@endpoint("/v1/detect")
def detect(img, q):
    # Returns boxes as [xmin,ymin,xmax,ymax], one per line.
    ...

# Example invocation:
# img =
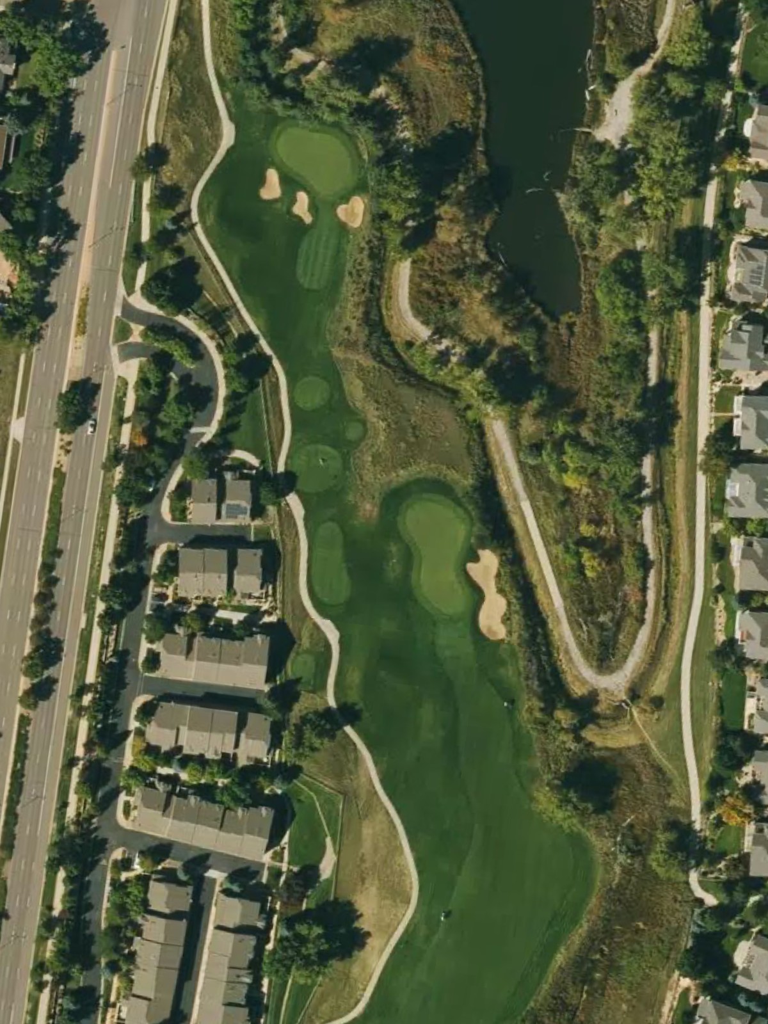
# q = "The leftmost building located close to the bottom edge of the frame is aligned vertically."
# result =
[123,877,192,1024]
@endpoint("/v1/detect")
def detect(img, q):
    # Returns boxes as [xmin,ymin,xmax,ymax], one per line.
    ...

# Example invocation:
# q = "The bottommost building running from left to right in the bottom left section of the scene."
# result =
[130,786,276,861]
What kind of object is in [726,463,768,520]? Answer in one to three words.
house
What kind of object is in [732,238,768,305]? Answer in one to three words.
house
